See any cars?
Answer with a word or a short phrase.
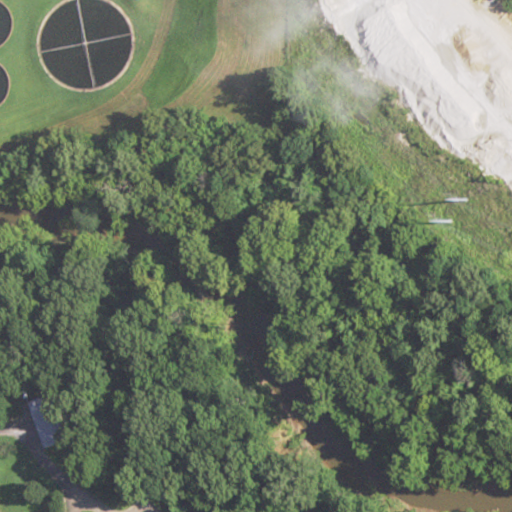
No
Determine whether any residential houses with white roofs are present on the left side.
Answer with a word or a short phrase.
No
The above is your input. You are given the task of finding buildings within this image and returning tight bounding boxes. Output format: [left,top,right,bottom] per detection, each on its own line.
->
[28,398,57,448]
